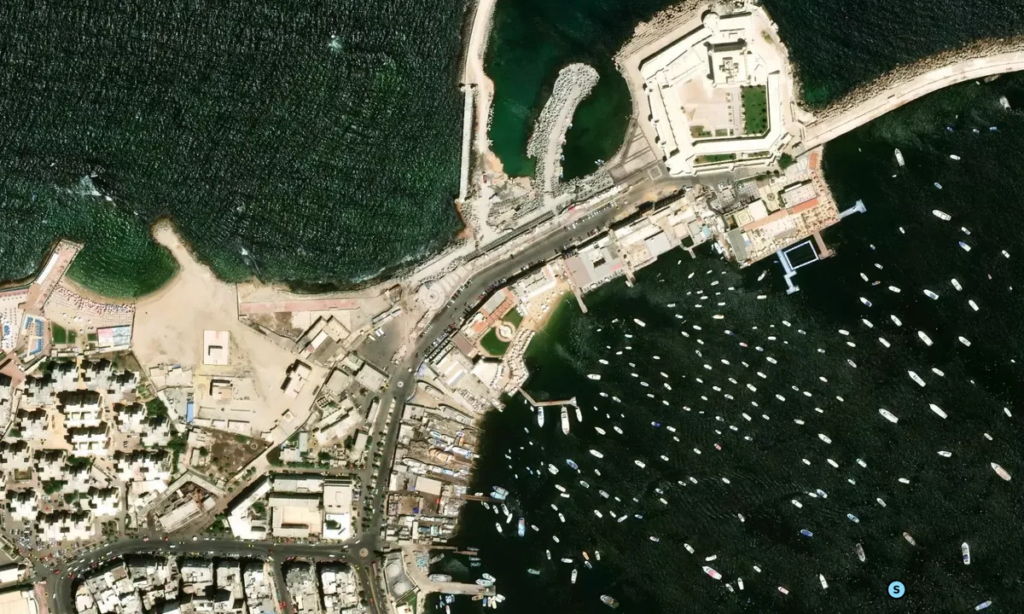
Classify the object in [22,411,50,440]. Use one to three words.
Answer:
building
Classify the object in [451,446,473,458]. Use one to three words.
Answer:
boat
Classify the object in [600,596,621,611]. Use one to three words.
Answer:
boat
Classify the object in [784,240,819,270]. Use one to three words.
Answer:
swimming pool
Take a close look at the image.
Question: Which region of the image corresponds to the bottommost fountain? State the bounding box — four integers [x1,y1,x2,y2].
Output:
[495,321,516,342]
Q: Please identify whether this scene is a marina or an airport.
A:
marina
